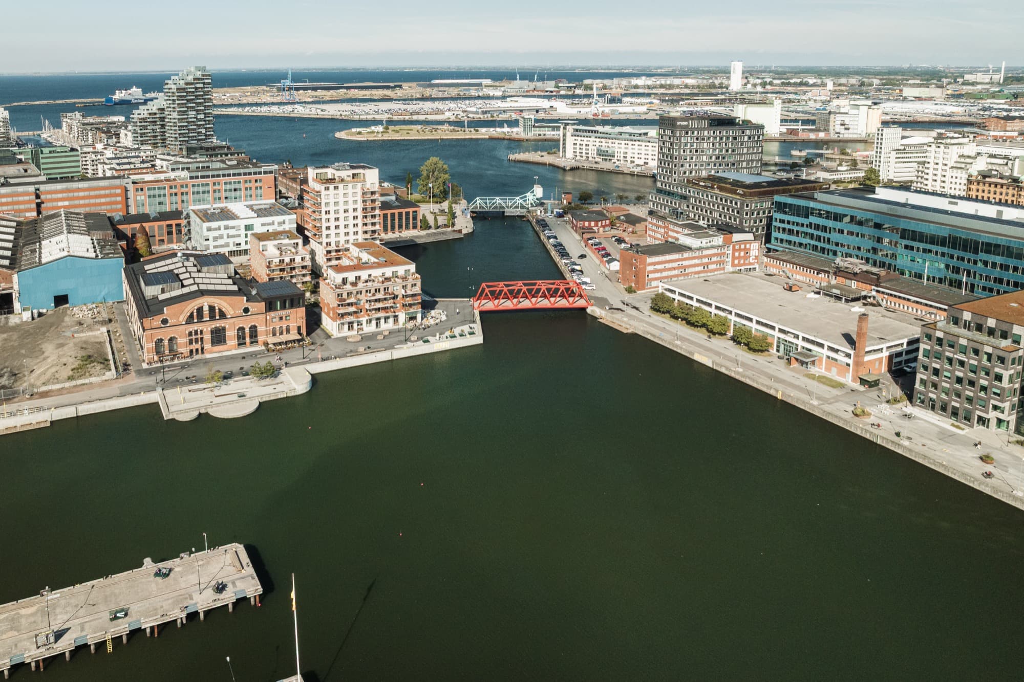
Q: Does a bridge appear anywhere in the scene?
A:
Yes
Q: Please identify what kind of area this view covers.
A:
port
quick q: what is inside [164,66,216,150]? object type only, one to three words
building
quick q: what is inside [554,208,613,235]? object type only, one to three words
house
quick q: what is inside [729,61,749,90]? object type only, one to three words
silo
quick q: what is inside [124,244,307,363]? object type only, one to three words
building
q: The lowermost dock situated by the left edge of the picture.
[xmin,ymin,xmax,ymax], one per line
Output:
[0,542,263,682]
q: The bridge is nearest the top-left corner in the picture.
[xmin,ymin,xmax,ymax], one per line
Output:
[461,170,556,217]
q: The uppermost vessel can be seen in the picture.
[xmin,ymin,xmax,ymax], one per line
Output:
[100,85,165,105]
